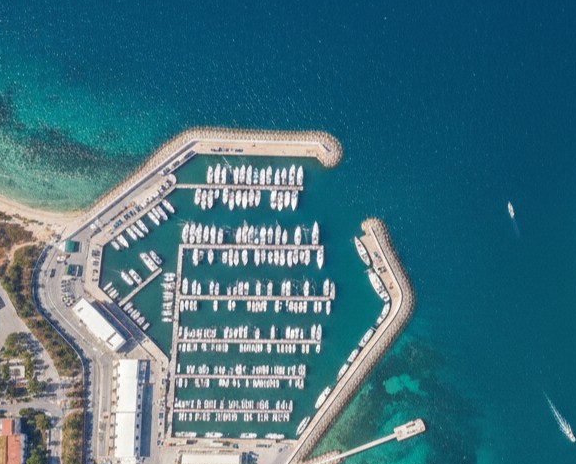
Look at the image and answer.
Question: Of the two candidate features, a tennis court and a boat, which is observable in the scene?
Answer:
boat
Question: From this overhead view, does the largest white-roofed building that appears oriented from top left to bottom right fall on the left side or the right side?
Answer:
left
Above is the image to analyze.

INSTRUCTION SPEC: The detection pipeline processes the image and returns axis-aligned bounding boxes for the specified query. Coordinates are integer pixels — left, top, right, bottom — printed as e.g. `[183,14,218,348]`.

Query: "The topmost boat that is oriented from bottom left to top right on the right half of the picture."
[375,304,390,325]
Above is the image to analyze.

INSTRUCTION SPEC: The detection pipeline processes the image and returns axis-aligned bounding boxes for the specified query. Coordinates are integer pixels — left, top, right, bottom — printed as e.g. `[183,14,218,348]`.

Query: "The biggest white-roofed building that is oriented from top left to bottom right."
[73,298,124,346]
